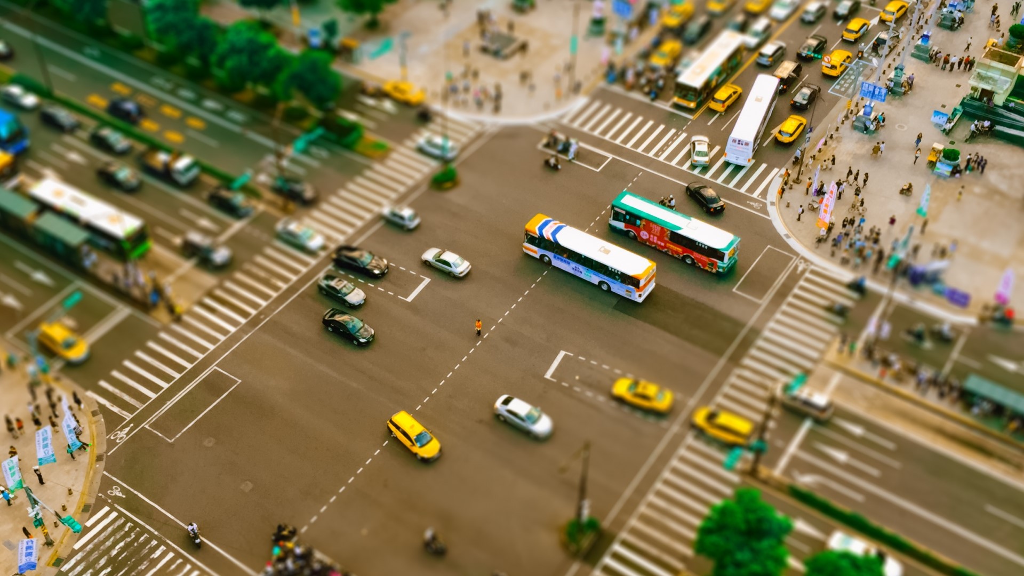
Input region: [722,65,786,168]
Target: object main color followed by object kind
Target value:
white bus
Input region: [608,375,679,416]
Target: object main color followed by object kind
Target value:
yellow car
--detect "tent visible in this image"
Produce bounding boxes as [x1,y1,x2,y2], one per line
[903,251,942,292]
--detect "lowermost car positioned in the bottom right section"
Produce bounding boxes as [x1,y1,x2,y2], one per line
[828,527,912,576]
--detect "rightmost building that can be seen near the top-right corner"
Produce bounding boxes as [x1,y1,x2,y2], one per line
[959,42,1024,113]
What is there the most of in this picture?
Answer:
paved ground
